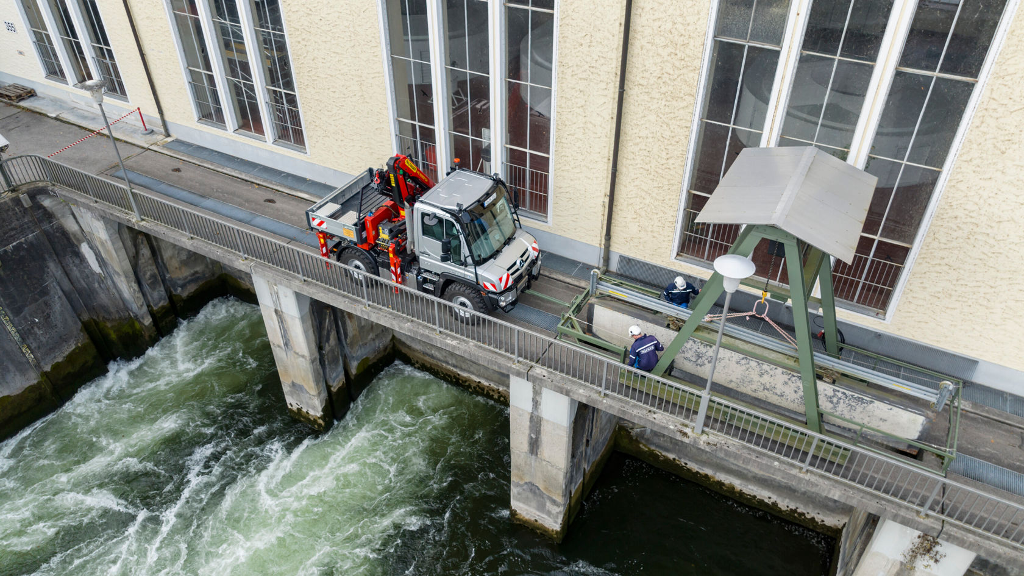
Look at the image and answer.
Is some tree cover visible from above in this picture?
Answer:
No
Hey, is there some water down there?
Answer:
Yes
